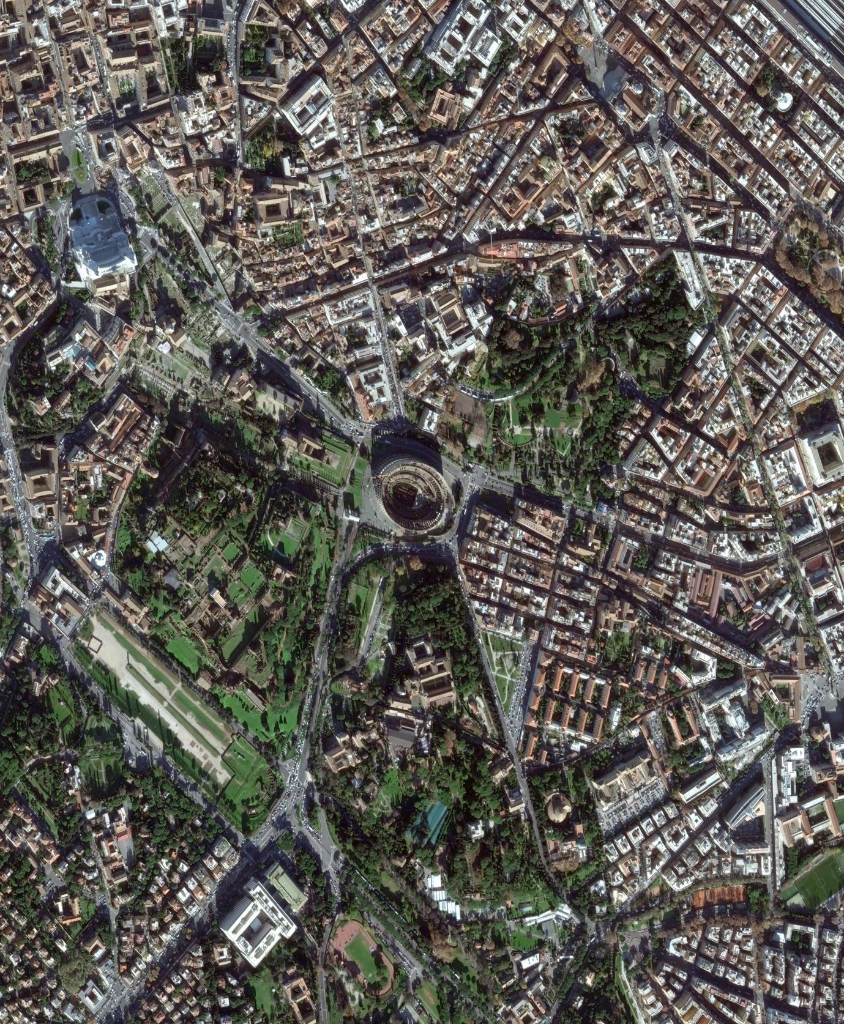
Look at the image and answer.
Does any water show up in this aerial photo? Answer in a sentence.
No, the scene doesn't show any water.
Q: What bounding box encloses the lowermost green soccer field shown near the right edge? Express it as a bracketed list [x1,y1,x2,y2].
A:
[795,855,844,910]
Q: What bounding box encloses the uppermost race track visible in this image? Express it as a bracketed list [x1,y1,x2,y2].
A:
[70,612,277,809]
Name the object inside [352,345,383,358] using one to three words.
house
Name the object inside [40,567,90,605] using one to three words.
building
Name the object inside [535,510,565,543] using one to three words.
building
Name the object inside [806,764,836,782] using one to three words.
house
